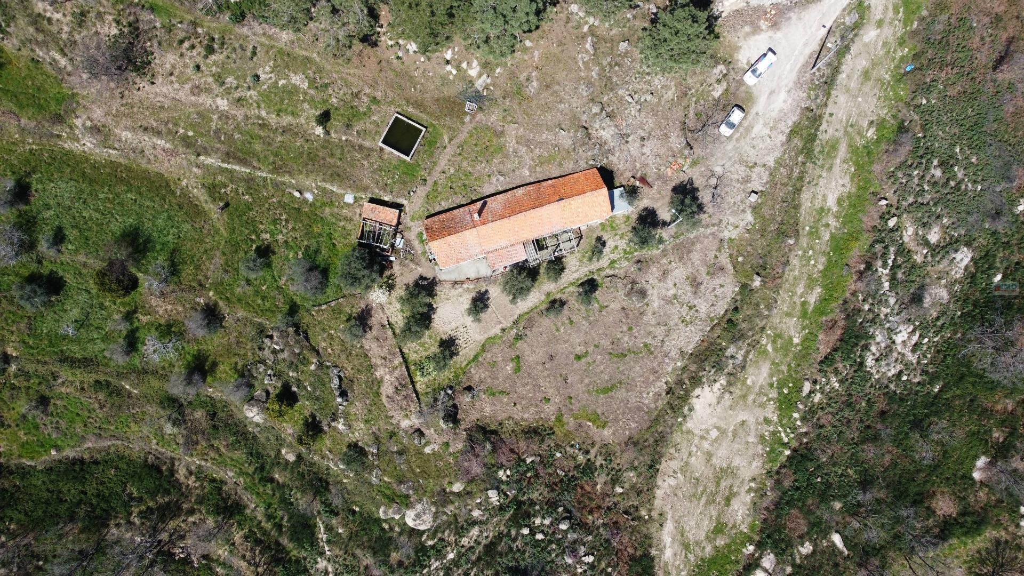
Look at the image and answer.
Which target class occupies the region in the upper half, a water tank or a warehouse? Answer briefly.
water tank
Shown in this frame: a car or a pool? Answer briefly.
car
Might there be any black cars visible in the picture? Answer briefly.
No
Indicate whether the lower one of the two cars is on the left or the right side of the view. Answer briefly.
right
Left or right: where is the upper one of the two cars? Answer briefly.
right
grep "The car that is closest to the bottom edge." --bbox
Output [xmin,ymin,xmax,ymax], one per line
[716,102,747,139]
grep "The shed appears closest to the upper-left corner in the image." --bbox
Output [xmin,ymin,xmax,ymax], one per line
[362,202,399,227]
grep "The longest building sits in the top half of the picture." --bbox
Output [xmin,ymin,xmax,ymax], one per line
[425,168,612,271]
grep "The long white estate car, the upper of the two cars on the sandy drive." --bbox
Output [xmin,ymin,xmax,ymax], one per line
[740,45,782,88]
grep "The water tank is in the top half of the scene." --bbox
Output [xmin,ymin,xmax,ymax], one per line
[379,113,427,162]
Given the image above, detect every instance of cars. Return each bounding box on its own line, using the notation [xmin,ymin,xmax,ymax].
[740,45,782,88]
[716,102,747,139]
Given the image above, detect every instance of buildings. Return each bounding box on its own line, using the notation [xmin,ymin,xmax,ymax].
[425,168,612,271]
[362,202,399,227]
